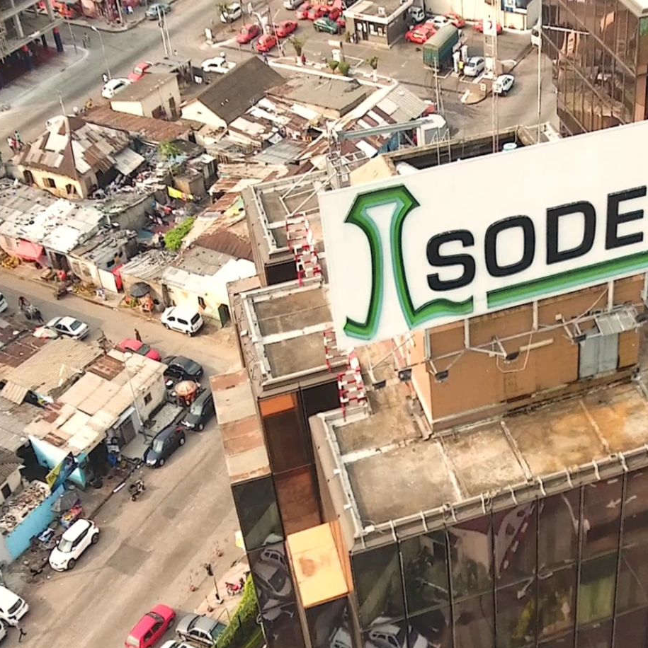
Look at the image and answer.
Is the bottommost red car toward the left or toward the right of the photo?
left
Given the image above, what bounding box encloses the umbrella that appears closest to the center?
[172,382,199,402]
